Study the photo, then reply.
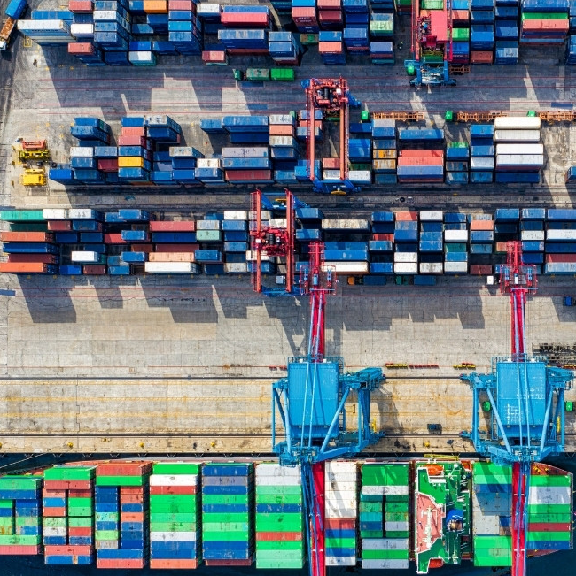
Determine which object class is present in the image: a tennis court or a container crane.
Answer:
container crane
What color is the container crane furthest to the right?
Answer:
blue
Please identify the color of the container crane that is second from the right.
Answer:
red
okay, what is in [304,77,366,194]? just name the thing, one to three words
container crane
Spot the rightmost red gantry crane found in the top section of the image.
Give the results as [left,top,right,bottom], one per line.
[409,0,460,88]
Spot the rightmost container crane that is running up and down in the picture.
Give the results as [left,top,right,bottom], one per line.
[461,242,572,576]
